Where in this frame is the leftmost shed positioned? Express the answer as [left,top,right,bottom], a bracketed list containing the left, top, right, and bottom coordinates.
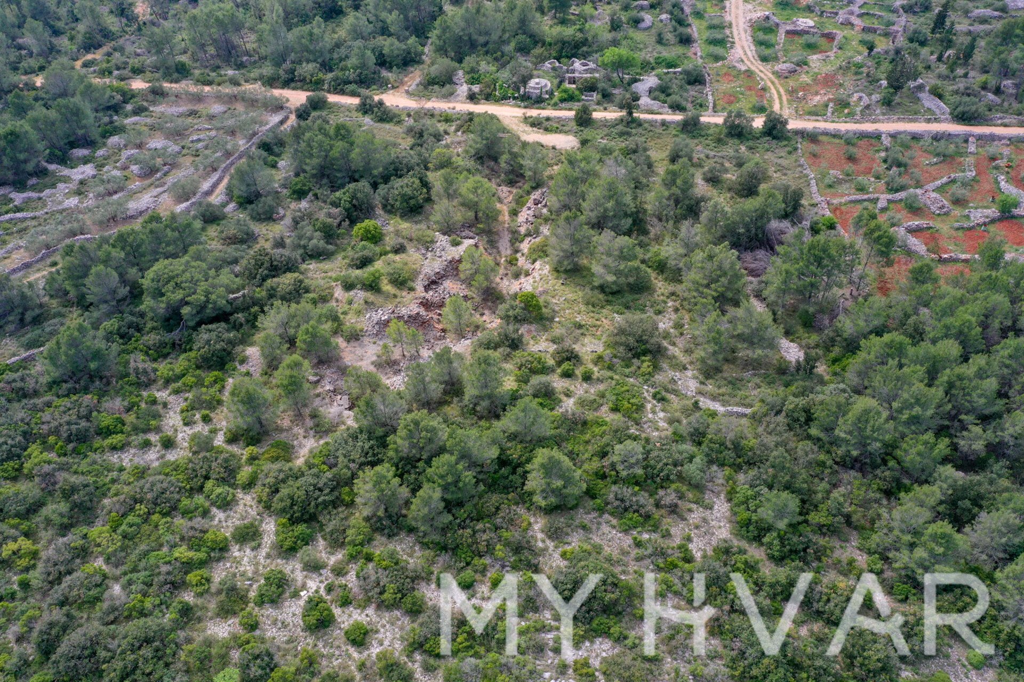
[522,79,555,103]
